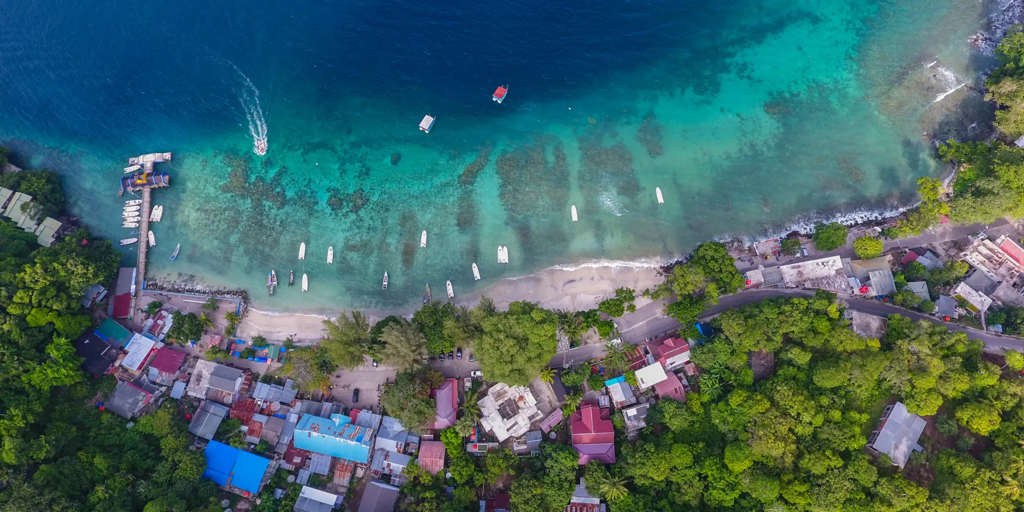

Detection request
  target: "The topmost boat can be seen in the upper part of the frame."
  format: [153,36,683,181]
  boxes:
[492,85,512,106]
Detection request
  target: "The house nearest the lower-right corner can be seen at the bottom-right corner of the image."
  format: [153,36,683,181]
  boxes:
[867,402,927,468]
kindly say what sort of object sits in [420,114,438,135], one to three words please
boat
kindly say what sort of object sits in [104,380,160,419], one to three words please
house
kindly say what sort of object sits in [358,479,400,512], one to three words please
building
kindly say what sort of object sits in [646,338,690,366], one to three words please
house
